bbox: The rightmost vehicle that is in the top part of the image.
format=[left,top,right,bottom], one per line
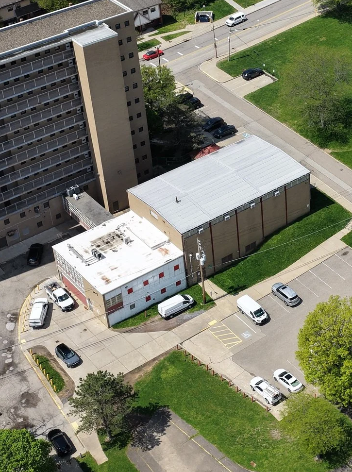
[242,68,264,81]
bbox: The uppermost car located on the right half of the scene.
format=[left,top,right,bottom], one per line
[226,11,247,25]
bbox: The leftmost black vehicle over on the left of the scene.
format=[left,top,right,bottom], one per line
[27,243,44,267]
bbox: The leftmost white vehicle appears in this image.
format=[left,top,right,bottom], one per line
[30,296,50,327]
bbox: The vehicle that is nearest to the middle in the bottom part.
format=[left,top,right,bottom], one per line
[154,291,197,317]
